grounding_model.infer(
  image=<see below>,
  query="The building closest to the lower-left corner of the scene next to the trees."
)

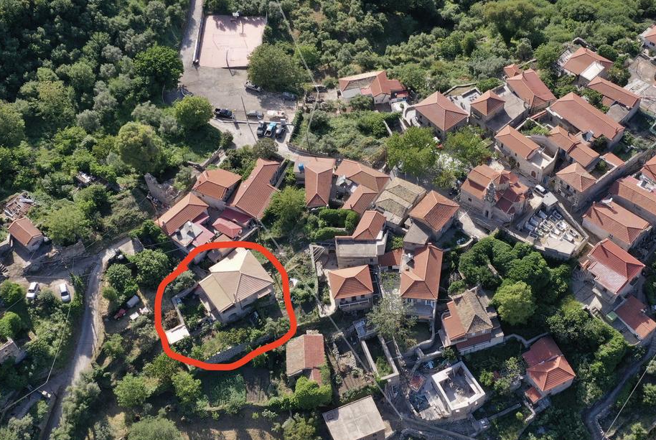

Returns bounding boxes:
[0,340,25,363]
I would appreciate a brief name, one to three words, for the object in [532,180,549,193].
vehicle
